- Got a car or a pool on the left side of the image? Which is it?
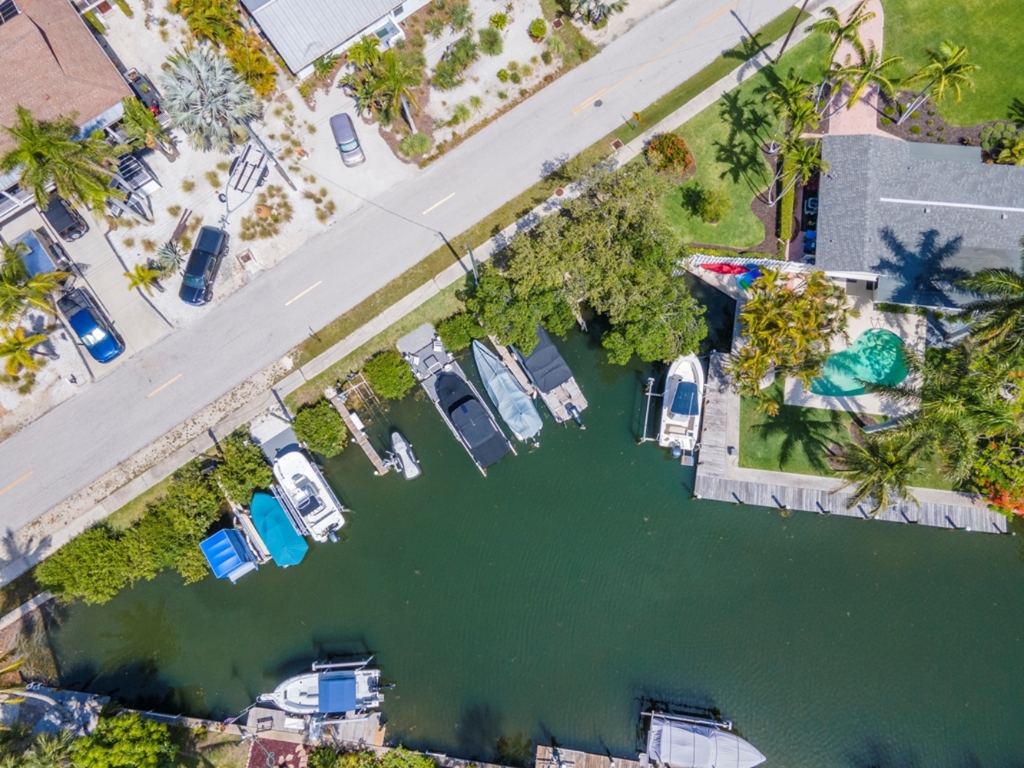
car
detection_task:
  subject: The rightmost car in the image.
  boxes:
[327,110,366,171]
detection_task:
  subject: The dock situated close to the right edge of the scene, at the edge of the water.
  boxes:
[693,352,1008,533]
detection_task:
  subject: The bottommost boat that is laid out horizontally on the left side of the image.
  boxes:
[256,667,394,717]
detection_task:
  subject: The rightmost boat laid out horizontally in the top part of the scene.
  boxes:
[699,262,752,276]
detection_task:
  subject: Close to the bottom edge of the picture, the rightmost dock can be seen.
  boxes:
[535,743,640,768]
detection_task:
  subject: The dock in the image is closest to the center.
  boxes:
[487,333,537,397]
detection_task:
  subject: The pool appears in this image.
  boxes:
[784,271,928,415]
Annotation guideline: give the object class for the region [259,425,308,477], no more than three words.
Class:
pier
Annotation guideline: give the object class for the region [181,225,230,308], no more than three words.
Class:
truck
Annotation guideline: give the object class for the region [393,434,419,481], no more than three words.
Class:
boat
